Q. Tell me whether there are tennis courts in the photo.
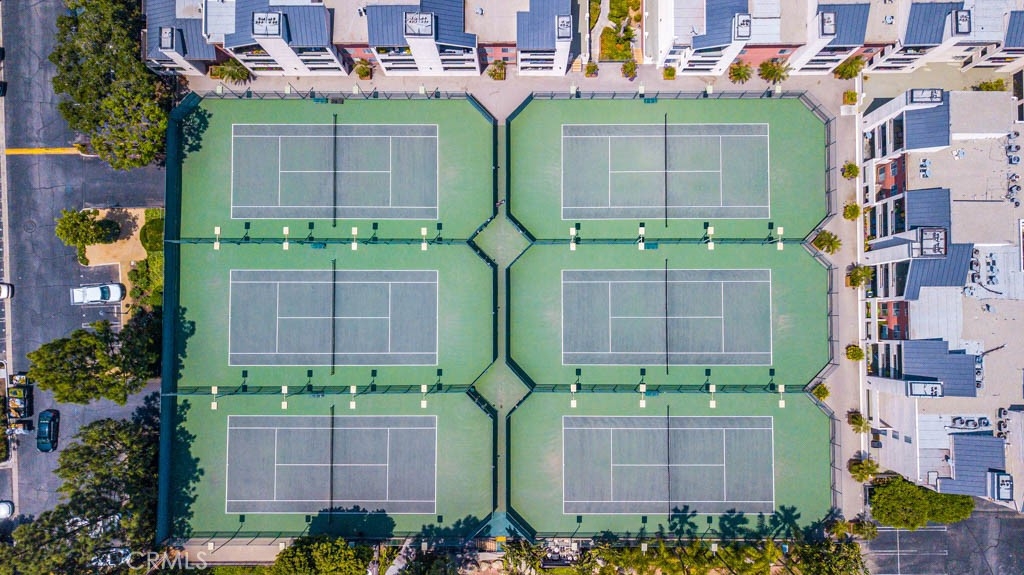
Yes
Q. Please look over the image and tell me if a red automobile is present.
No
